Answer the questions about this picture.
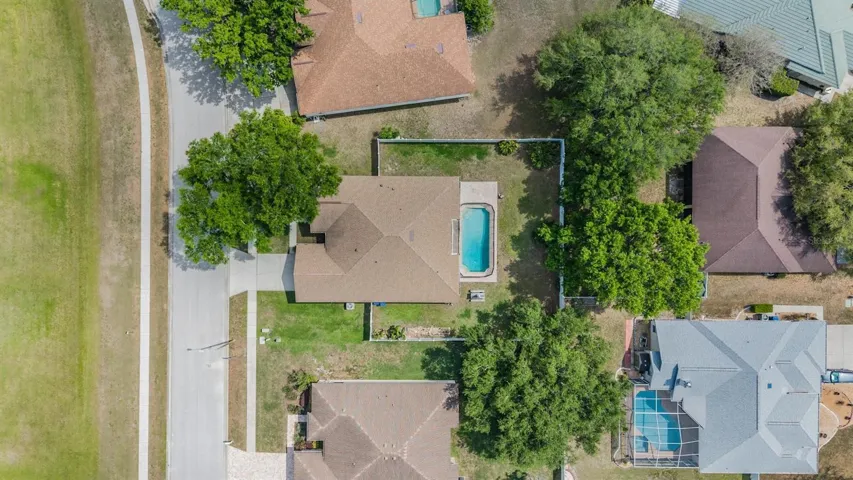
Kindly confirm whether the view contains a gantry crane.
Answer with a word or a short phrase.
No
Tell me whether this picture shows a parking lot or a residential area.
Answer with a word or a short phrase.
residential area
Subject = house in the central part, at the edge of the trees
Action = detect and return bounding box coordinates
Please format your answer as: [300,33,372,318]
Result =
[292,177,461,303]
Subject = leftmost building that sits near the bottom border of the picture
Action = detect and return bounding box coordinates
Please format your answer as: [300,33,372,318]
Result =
[294,381,457,480]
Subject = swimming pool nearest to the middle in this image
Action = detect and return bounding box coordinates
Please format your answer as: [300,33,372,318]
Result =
[460,204,493,273]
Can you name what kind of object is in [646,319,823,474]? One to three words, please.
house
